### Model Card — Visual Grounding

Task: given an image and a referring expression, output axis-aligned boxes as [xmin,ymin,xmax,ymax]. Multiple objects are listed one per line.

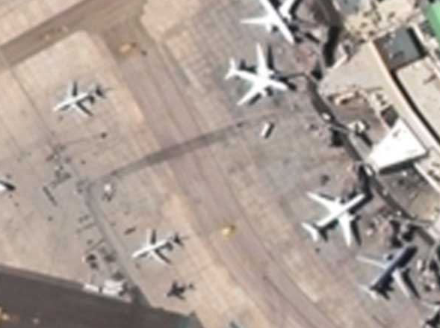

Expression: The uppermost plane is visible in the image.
[239,0,292,43]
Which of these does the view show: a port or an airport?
airport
